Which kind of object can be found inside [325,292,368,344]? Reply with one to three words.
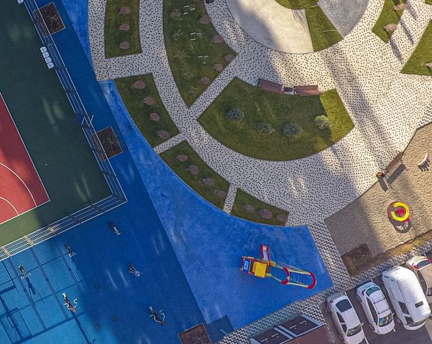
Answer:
car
